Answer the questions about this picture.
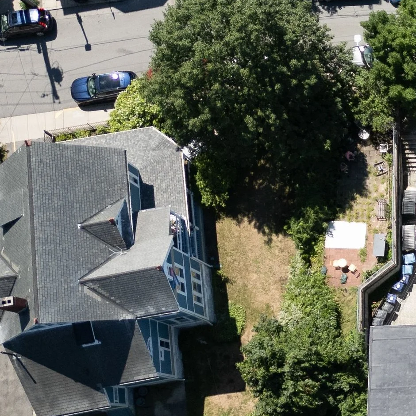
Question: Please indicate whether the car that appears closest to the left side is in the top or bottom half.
top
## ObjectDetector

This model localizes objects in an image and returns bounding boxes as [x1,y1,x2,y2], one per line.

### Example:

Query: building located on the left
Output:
[0,125,210,416]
